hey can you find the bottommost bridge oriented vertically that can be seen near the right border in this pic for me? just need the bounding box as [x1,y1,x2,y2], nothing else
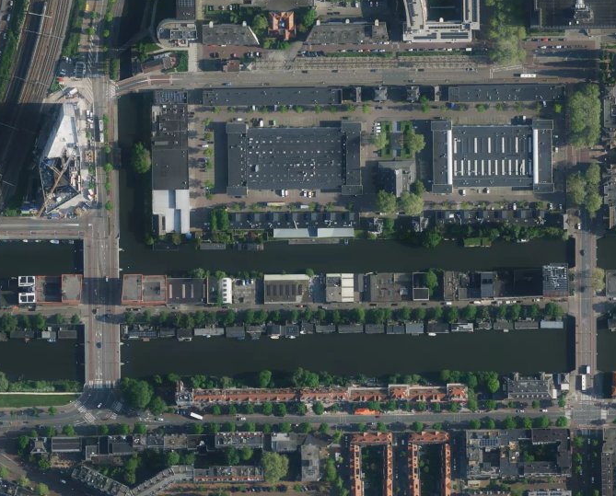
[575,321,598,375]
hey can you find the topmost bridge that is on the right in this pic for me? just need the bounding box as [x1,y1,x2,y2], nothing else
[575,231,598,268]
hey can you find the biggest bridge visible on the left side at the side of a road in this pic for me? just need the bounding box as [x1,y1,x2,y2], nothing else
[83,327,124,389]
